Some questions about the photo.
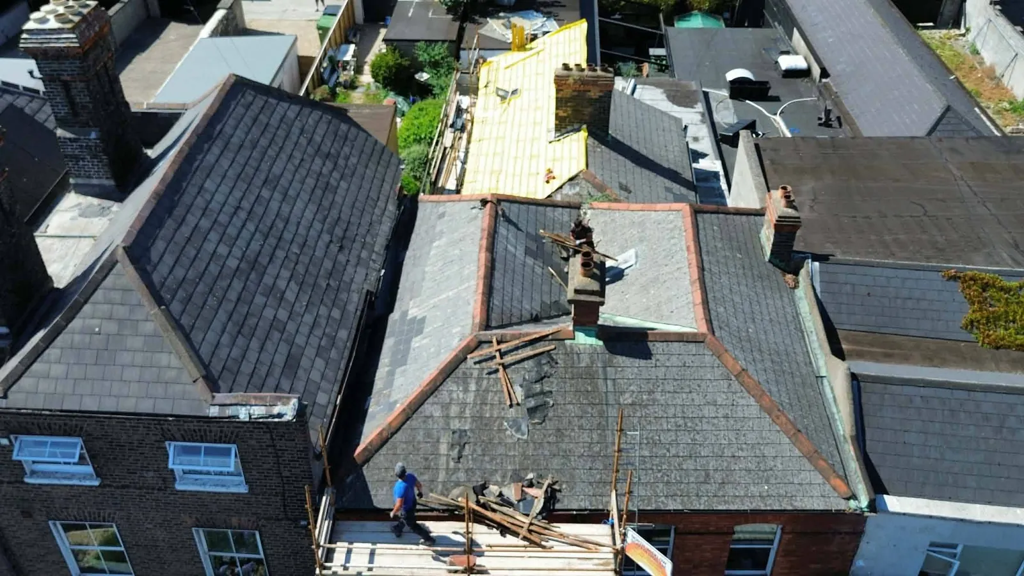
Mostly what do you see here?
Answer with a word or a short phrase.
buildings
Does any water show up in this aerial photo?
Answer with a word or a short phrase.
No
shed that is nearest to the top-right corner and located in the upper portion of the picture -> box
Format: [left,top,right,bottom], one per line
[921,0,963,29]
